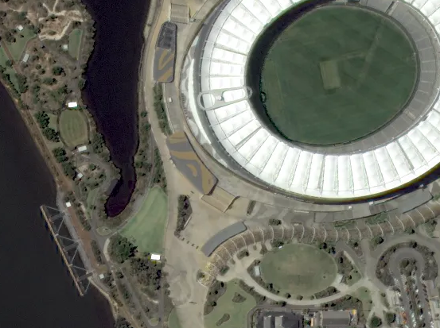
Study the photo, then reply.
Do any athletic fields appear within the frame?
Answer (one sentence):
Yes, the frame does contain an athletic field.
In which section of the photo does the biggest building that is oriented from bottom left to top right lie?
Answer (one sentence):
Look in the bottom portion of the view to spot the biggest building that is oriented from bottom left to top right.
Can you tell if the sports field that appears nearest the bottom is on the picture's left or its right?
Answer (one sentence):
The sports field that appears nearest the bottom appears in the right half of the scene.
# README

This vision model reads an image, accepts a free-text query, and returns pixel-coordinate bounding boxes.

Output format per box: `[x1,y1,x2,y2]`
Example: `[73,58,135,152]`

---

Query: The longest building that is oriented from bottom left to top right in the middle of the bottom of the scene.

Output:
[202,222,246,256]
